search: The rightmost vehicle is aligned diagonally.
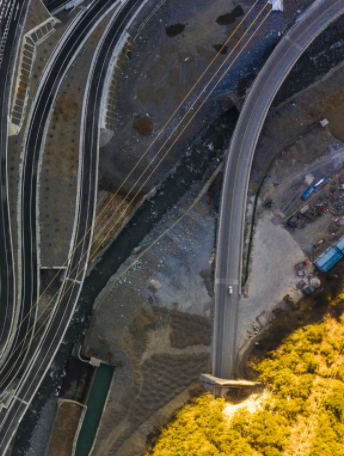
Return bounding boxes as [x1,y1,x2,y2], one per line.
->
[315,174,332,190]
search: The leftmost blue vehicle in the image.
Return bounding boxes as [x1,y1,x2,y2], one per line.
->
[300,183,319,199]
